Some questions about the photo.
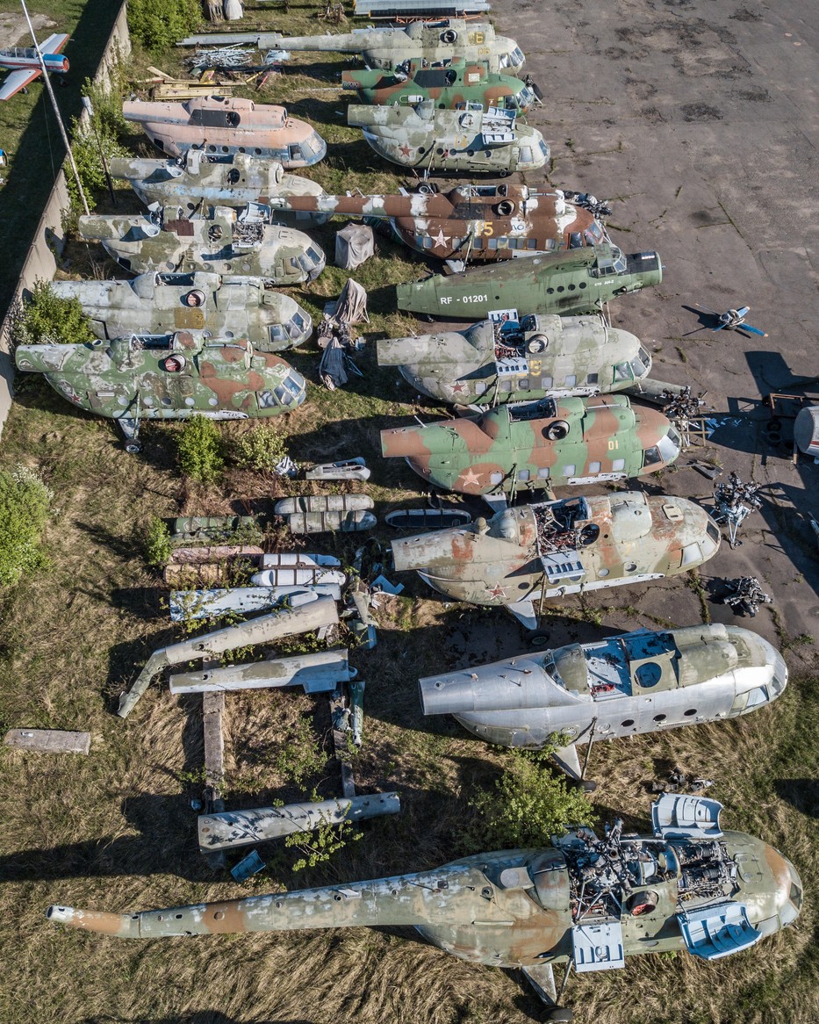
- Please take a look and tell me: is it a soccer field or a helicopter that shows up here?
helicopter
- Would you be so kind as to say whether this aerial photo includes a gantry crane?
No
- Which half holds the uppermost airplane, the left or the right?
left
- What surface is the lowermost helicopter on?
grass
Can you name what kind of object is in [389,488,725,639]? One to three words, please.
helicopter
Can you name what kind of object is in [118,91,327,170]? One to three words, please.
helicopter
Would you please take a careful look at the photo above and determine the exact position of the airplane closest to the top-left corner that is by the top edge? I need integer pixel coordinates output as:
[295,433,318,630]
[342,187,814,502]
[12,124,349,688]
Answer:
[0,35,73,105]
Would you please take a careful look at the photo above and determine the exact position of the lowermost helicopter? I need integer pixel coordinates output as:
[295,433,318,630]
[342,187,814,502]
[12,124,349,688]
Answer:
[35,789,810,1024]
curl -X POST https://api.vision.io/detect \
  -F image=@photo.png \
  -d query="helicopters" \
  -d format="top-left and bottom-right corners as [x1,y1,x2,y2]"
[35,789,810,1024]
[417,621,795,795]
[389,488,725,639]
[345,95,550,192]
[7,327,307,453]
[73,191,326,293]
[47,266,313,356]
[377,299,654,410]
[106,147,326,228]
[342,56,533,115]
[275,185,606,269]
[118,91,327,170]
[380,393,685,512]
[258,21,525,76]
